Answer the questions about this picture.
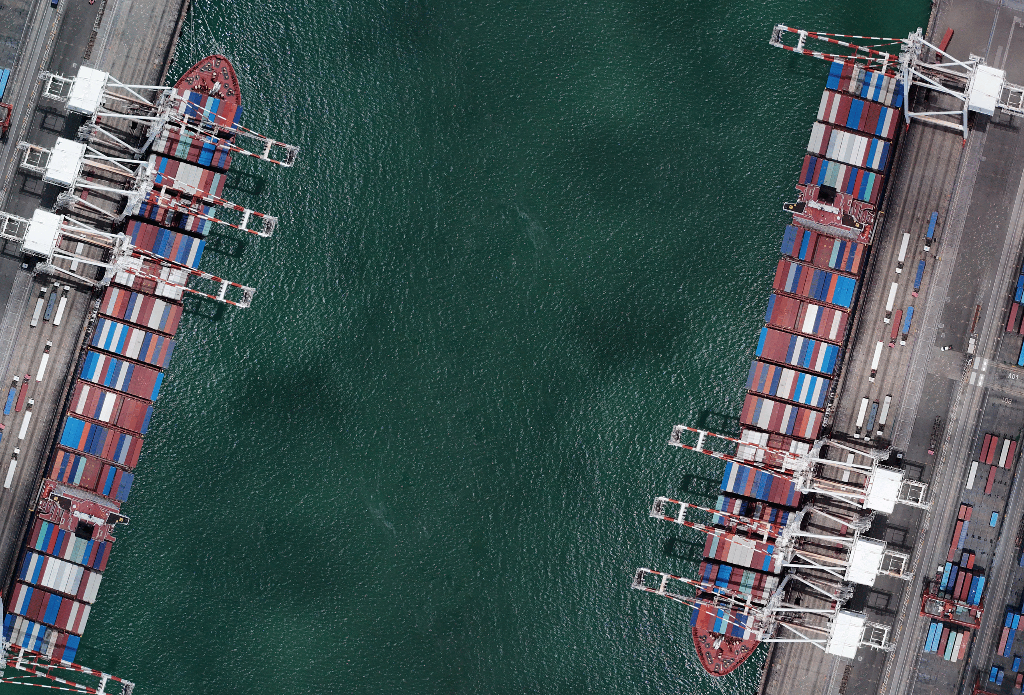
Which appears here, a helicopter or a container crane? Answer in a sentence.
I can see a container crane in this picture.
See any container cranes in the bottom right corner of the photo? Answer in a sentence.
Yes, in the bottom right corner of the photo there is a container crane.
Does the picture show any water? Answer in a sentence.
Yes, the picture does contain water.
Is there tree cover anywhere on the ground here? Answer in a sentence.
No, tree cover can't be seen anywhere here.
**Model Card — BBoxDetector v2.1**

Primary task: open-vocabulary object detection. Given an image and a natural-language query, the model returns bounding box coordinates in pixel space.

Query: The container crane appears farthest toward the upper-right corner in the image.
[765,21,1024,130]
